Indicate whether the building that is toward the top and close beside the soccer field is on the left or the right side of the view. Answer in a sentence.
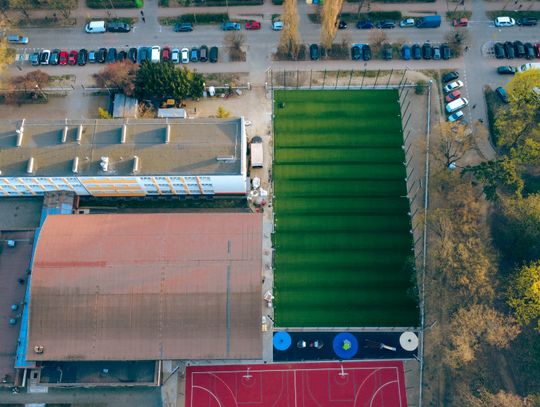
The building that is toward the top and close beside the soccer field is on the left side of the image.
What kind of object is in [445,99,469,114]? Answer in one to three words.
vehicle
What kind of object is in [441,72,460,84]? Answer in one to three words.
vehicle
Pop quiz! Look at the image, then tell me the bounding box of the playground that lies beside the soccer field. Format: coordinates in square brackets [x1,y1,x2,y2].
[273,331,421,361]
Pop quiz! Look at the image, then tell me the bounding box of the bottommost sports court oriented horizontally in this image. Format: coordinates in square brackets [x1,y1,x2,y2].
[186,360,411,407]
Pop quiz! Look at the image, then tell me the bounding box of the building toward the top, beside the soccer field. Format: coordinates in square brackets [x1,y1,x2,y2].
[0,113,248,195]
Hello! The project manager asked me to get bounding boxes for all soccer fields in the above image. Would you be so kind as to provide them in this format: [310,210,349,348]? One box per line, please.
[271,85,420,332]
